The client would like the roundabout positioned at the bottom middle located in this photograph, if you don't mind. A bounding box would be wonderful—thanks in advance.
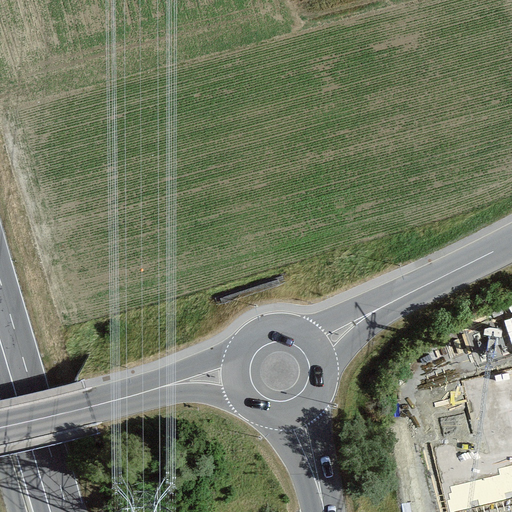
[222,314,338,430]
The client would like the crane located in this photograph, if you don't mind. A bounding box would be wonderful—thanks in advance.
[468,328,498,512]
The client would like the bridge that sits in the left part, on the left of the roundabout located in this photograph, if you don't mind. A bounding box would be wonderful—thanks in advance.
[0,354,102,456]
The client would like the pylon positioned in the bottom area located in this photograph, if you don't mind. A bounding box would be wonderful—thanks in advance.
[114,468,173,512]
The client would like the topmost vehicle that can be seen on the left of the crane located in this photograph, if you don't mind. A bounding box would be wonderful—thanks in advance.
[271,332,294,347]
